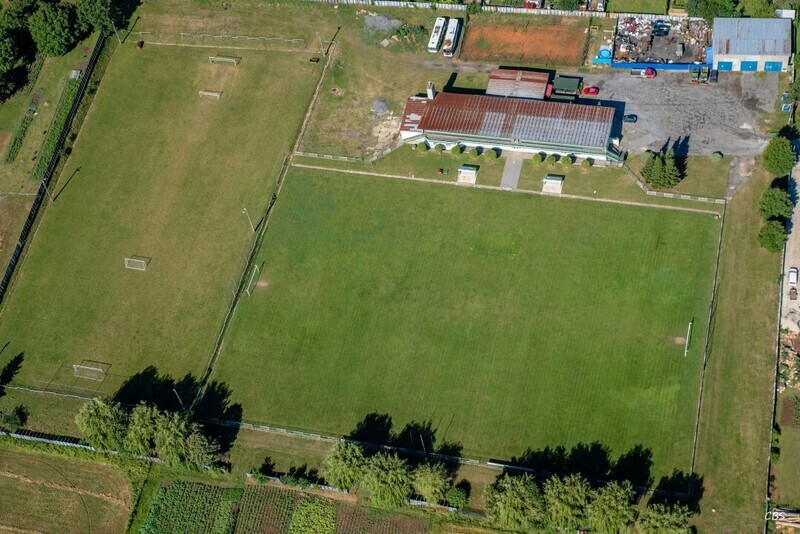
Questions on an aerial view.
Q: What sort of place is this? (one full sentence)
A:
This image shows a sports ground.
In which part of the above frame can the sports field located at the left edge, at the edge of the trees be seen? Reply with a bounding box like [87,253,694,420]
[0,41,317,410]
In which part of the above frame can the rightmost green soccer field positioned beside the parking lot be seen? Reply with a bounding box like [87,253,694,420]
[192,152,722,493]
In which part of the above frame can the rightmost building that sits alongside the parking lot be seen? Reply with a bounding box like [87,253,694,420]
[713,18,791,72]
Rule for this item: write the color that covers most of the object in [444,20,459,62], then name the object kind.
white vehicle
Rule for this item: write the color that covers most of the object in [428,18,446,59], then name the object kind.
white vehicle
